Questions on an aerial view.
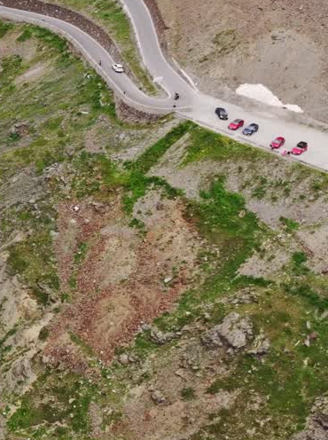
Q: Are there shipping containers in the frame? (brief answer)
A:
No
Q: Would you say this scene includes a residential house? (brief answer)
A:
No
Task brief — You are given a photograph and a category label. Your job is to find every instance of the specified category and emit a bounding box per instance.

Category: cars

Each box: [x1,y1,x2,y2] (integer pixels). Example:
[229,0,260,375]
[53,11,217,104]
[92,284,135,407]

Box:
[293,142,307,152]
[245,121,259,133]
[214,105,229,119]
[229,117,244,129]
[271,136,286,146]
[113,62,123,72]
